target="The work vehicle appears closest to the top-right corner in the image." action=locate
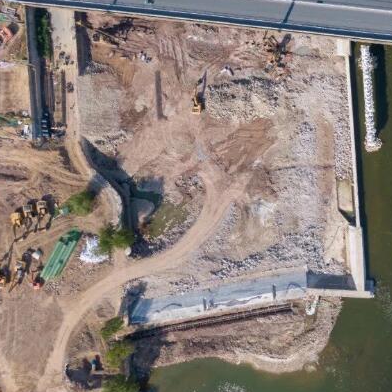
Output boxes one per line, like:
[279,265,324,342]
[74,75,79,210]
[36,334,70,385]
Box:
[191,81,204,119]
